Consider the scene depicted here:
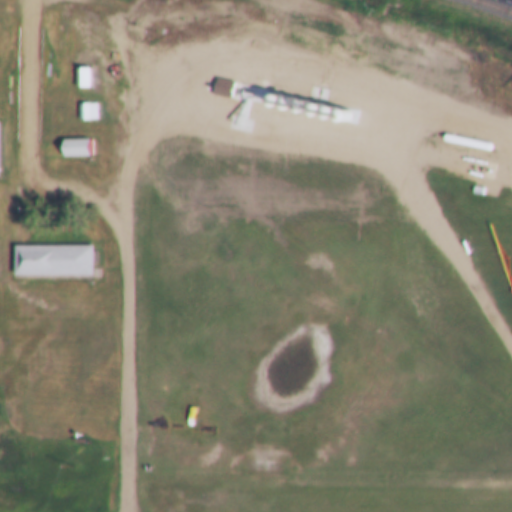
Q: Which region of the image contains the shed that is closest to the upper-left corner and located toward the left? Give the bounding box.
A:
[78,66,92,88]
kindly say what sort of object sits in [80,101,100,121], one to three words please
shed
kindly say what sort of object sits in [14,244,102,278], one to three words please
building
